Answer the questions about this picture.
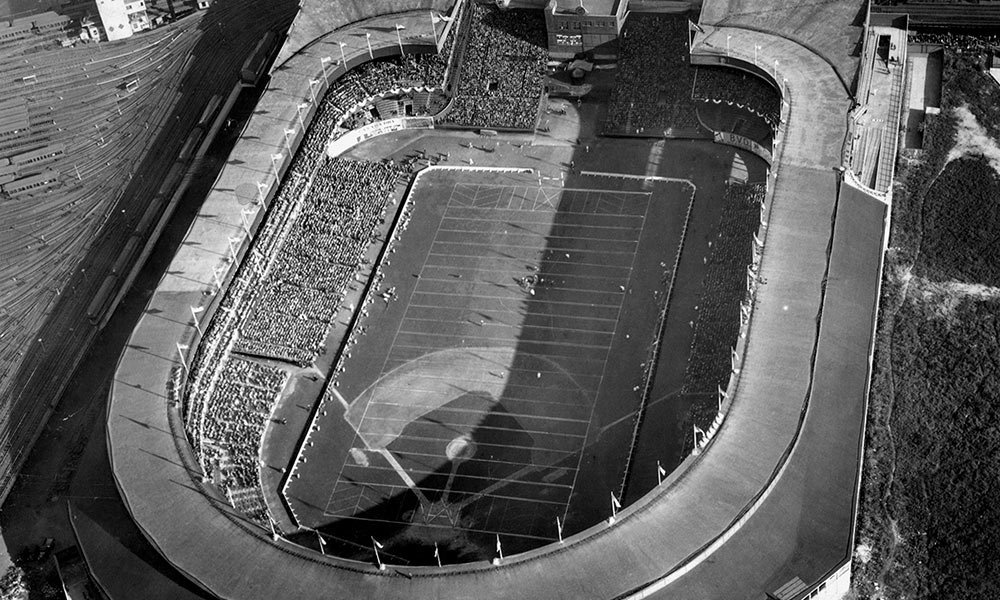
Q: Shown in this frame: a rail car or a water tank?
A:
rail car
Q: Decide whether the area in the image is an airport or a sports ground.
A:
sports ground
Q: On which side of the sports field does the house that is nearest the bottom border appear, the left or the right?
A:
left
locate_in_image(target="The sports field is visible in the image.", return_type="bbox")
[260,41,766,565]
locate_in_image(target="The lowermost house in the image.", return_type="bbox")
[54,544,95,600]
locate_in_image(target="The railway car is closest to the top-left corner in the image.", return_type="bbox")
[0,14,34,41]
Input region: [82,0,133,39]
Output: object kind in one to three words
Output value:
building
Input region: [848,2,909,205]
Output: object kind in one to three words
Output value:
house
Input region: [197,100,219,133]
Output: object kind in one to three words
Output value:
rail car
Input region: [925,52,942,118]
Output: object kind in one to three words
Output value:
house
